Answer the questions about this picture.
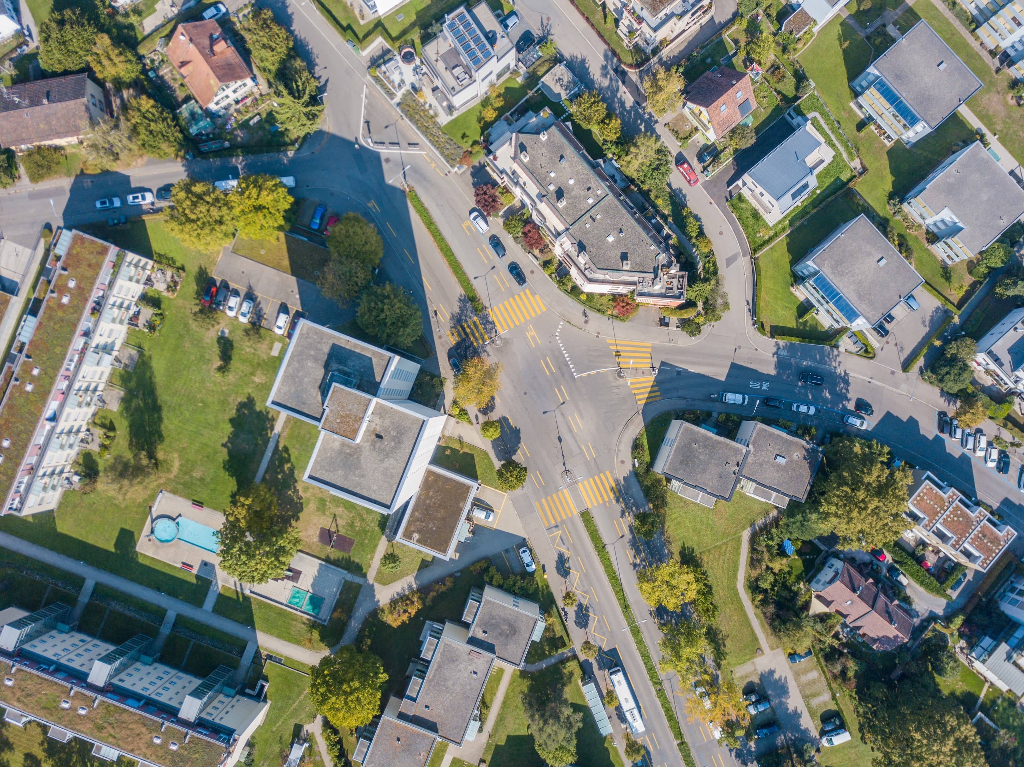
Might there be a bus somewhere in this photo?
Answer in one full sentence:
Yes, you can see a bus in this photo.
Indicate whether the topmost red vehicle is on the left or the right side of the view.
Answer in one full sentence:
You can find the topmost red vehicle on the right side of the picture.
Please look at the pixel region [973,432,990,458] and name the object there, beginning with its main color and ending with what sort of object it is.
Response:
white car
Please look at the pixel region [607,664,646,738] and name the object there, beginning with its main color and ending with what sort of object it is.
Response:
white bus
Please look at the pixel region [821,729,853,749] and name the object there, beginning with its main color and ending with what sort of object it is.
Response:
white vehicle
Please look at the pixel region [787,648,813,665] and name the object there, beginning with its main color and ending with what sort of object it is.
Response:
blue car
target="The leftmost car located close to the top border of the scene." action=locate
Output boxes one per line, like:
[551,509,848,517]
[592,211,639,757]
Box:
[201,4,227,20]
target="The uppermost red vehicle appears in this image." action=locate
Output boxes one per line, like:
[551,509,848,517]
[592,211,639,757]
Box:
[674,160,698,188]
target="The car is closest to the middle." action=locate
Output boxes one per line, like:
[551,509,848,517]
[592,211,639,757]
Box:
[448,354,466,377]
